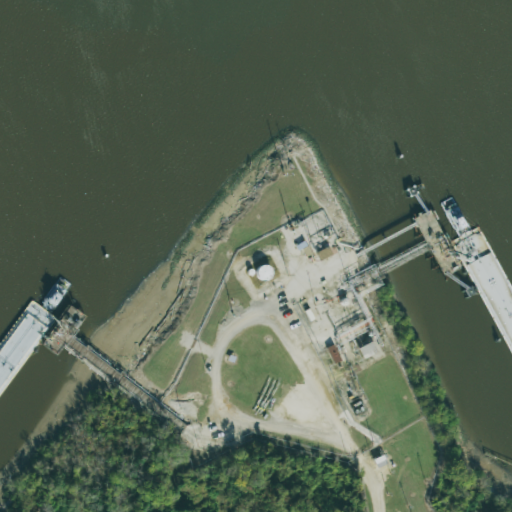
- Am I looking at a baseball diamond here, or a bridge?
bridge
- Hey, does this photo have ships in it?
Yes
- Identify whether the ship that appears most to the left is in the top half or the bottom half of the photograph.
bottom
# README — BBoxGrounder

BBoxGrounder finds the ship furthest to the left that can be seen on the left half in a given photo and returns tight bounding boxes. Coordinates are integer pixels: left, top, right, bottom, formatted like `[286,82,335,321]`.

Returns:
[0,304,54,396]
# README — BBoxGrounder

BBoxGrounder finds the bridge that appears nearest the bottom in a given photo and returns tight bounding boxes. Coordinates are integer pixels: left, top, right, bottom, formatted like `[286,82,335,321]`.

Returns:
[64,333,186,430]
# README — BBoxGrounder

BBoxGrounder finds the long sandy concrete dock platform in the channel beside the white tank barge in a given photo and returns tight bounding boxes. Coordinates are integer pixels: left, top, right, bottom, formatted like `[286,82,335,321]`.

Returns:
[416,208,464,276]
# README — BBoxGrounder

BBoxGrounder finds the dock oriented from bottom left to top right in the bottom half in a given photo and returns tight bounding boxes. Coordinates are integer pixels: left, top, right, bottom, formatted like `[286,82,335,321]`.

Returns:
[44,306,87,355]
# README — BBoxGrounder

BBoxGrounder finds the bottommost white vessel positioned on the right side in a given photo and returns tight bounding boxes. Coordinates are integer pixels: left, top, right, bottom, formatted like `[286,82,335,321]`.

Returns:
[452,228,512,352]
